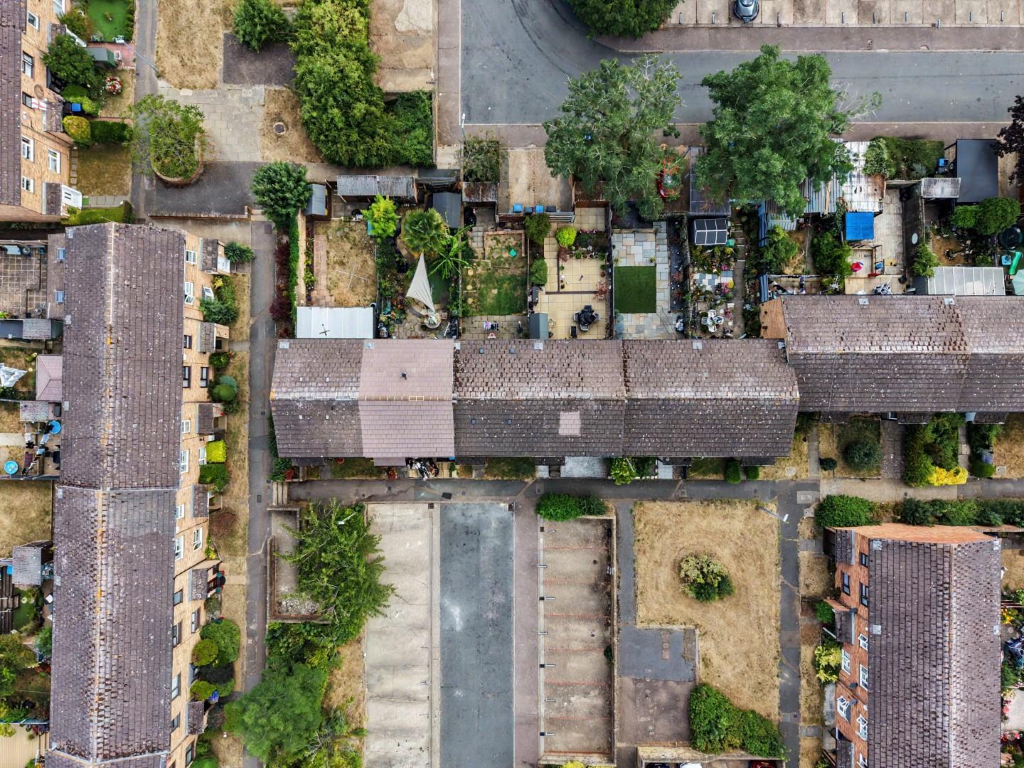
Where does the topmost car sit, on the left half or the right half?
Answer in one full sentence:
The topmost car sits on the right side.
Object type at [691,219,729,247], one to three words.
greenhouse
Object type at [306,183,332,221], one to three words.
shed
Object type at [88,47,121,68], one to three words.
building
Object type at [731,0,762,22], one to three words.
car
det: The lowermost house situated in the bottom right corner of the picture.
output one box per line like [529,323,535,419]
[822,679,1003,768]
